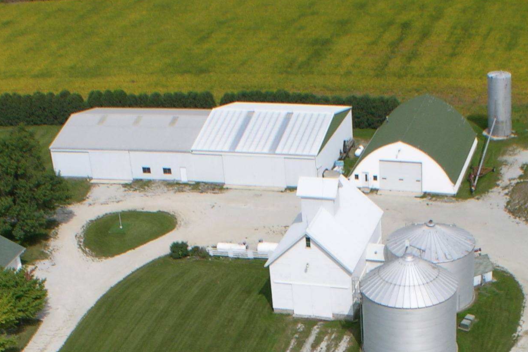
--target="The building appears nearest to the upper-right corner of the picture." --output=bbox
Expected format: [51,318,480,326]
[346,92,484,196]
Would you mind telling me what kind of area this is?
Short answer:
industrial area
